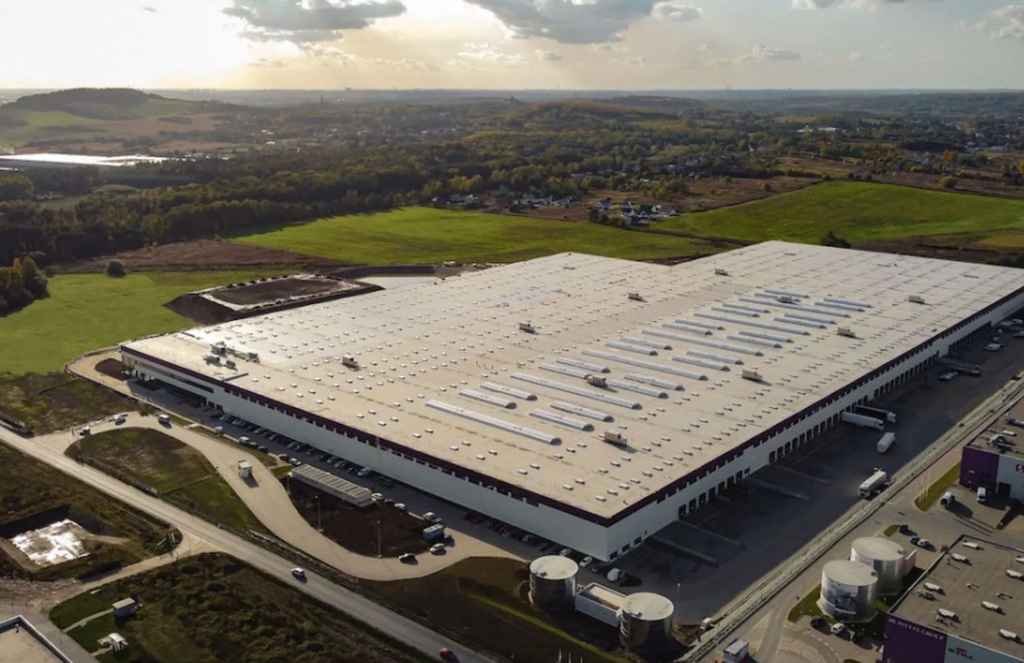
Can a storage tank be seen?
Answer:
Yes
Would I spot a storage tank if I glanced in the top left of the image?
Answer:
No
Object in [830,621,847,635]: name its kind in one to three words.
car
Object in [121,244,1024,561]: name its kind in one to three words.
warehouse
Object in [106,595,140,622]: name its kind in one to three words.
shed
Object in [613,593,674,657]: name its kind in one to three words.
storage tank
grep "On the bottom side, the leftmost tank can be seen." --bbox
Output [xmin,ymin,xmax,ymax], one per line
[526,556,578,611]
